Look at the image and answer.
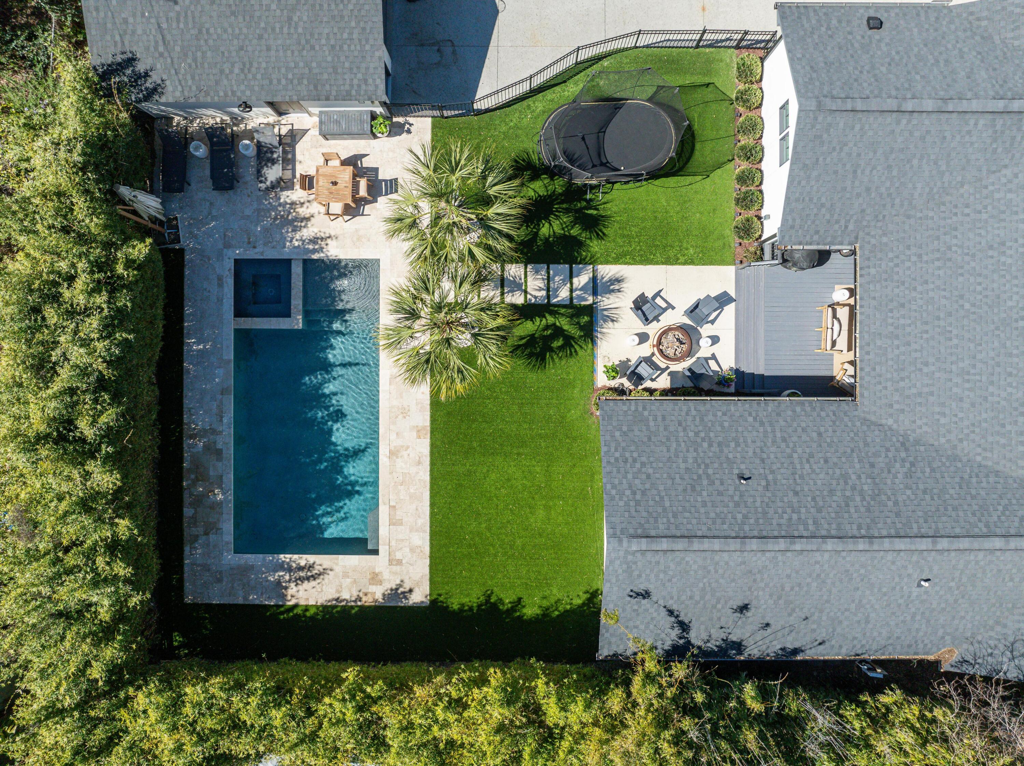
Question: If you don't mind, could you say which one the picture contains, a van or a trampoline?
trampoline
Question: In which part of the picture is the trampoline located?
top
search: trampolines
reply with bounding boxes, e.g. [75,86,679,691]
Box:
[533,67,693,195]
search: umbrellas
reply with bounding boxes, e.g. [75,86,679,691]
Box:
[114,183,177,245]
